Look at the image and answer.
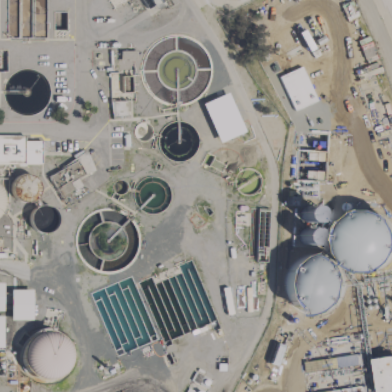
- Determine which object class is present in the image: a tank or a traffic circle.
tank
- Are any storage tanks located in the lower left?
Yes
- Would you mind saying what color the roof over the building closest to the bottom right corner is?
white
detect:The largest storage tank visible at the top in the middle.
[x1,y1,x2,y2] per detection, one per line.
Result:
[142,36,212,142]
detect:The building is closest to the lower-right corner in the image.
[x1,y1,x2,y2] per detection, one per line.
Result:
[366,356,392,392]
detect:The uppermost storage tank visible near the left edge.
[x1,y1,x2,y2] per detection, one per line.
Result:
[0,70,52,116]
